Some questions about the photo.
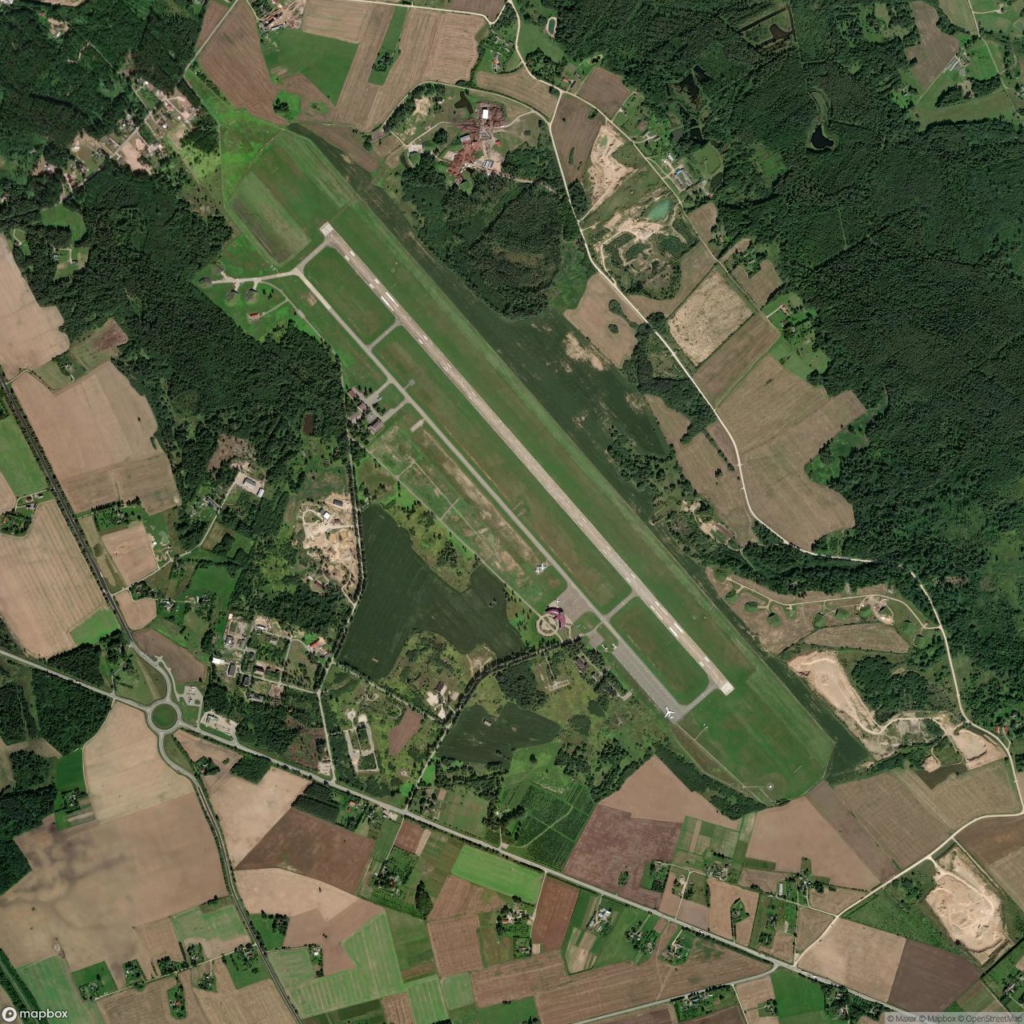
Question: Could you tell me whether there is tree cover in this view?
Yes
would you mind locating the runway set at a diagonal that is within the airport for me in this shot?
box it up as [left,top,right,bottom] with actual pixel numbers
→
[320,222,734,696]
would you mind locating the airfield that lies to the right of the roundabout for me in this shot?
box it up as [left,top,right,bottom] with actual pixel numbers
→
[212,222,773,789]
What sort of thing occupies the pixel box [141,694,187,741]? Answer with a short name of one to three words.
roundabout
